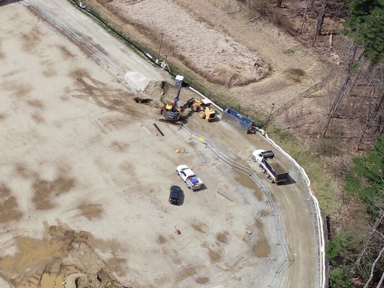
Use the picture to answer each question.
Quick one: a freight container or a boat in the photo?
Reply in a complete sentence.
Of the two, only a freight container appears.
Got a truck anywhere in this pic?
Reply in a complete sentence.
Yes, a truck is visible in the scene.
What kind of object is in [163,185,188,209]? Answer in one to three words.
car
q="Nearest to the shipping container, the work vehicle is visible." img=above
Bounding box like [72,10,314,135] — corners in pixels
[183,100,221,121]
